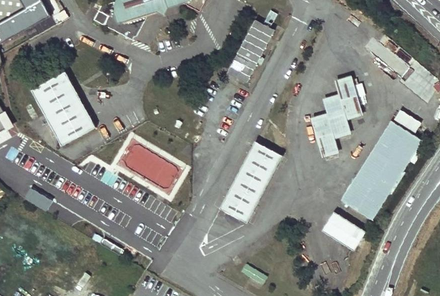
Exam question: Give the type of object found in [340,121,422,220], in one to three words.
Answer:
building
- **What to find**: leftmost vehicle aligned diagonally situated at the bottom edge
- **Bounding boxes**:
[75,271,92,292]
